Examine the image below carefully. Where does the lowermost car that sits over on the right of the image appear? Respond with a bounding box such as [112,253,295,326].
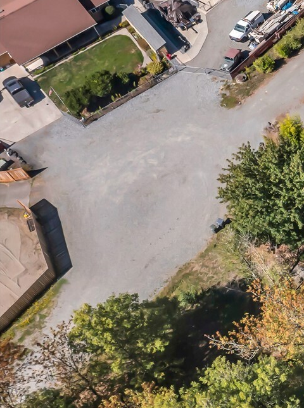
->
[216,45,241,71]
